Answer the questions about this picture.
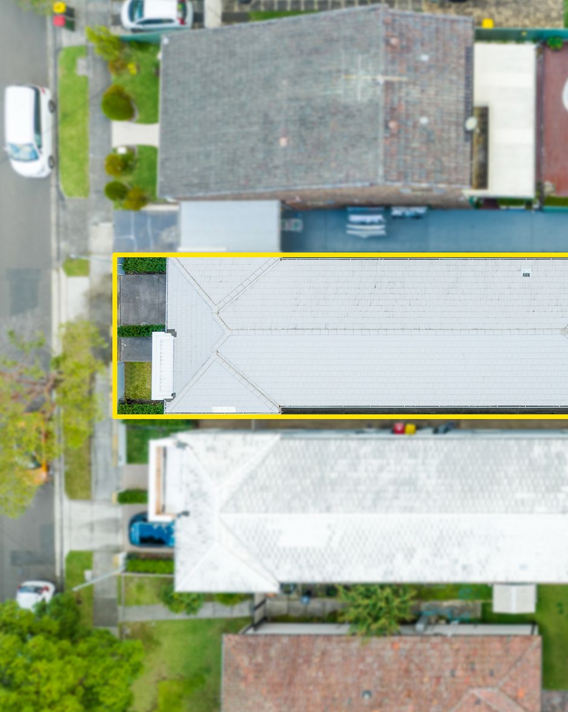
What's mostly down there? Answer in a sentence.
For the most part, this view shows buildings.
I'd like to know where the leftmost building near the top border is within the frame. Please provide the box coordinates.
[158,5,475,201]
